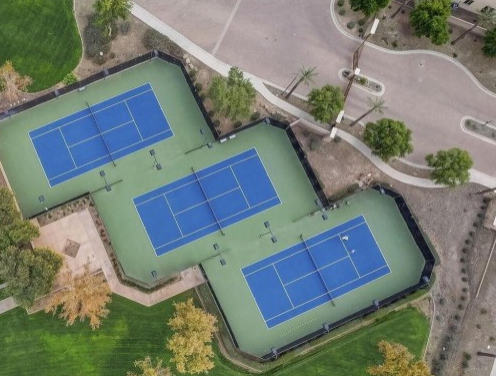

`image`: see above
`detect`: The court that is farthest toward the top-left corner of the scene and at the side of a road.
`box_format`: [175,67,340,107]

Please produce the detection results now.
[0,59,218,217]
